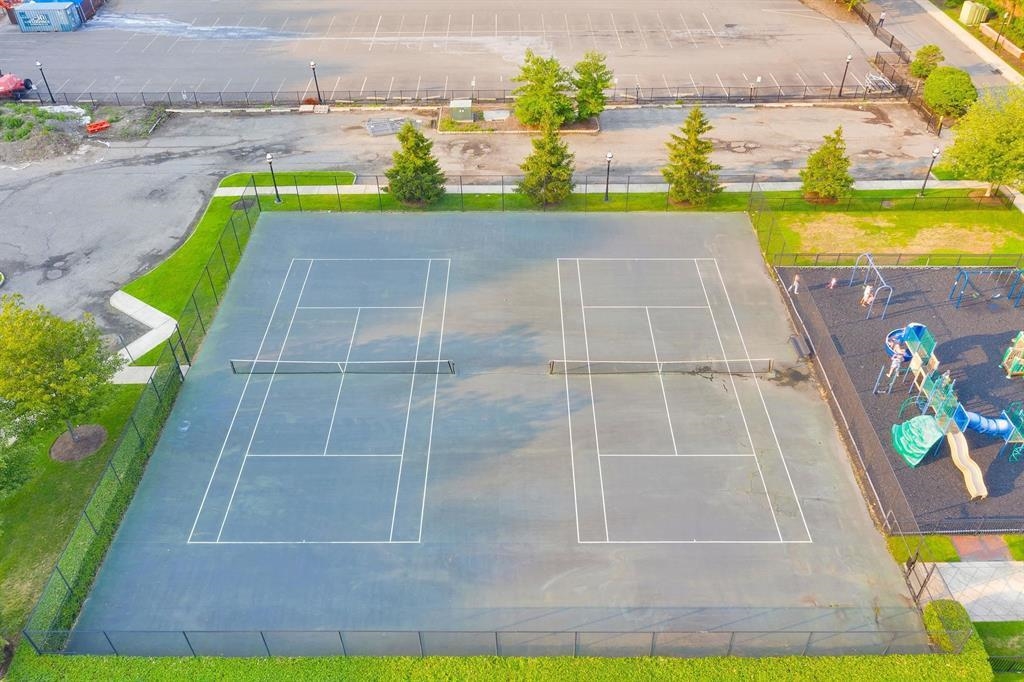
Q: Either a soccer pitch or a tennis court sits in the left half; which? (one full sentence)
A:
The one visible in the left half is a tennis court.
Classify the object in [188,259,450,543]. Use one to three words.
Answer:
tennis court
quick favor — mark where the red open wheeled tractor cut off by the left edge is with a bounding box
[0,70,35,98]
